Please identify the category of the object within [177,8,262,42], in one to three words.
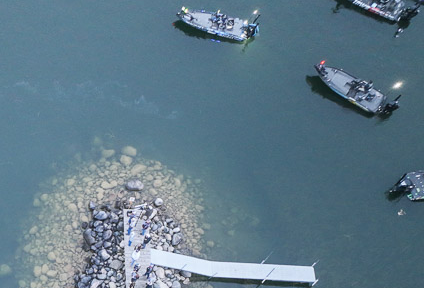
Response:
boat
